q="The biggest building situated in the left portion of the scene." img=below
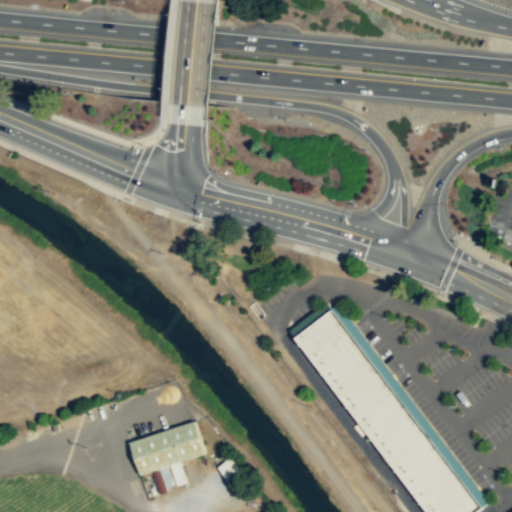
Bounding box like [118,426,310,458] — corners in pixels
[130,422,206,490]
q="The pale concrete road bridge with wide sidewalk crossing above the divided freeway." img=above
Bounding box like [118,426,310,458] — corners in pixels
[160,0,217,107]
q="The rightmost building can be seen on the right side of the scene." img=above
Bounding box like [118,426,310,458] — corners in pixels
[289,304,486,512]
